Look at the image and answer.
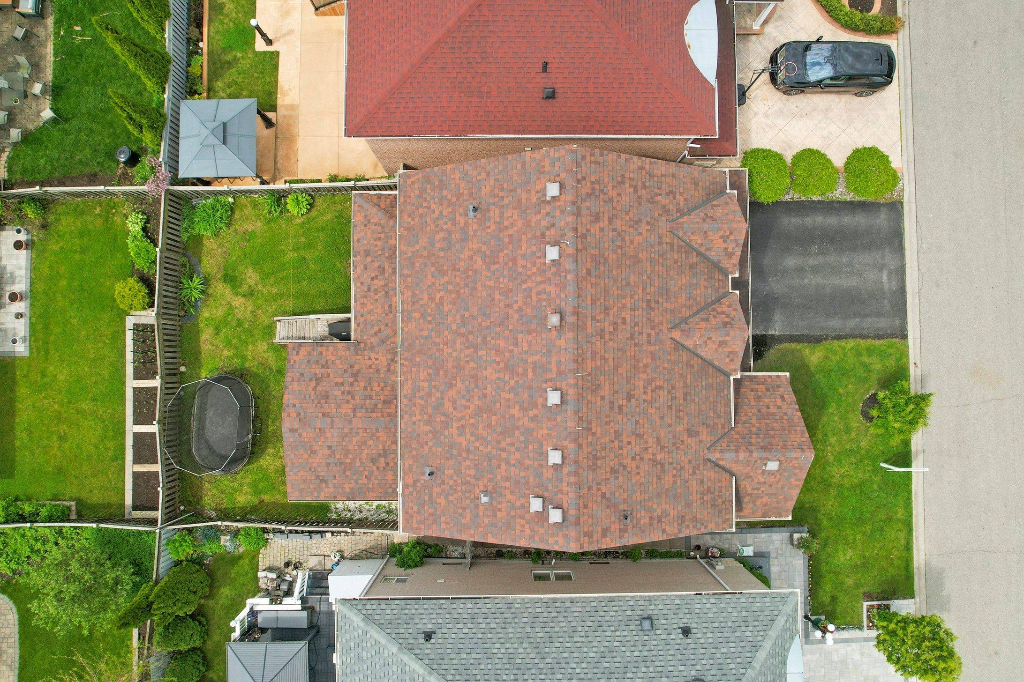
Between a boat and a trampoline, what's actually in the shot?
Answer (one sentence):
There is a trampoline in the scene.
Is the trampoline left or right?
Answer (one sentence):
The trampoline is on the left side of the image.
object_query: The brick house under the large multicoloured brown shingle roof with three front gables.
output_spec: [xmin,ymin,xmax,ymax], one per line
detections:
[282,145,815,552]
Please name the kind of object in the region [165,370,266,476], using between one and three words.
trampoline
